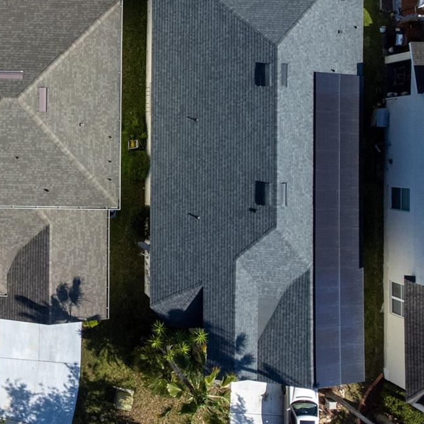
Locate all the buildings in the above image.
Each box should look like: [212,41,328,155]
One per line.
[0,0,124,325]
[145,0,364,389]
[385,38,424,419]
